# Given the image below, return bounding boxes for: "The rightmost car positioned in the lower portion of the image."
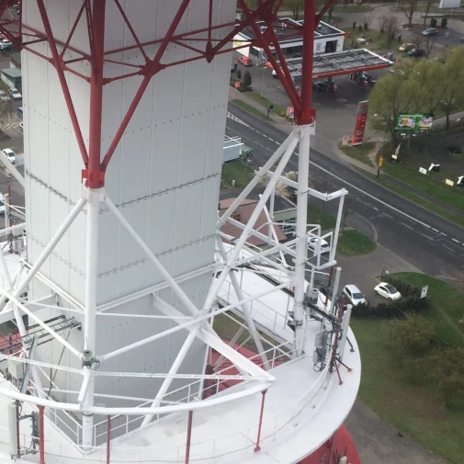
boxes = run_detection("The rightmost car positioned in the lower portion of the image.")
[371,280,403,300]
